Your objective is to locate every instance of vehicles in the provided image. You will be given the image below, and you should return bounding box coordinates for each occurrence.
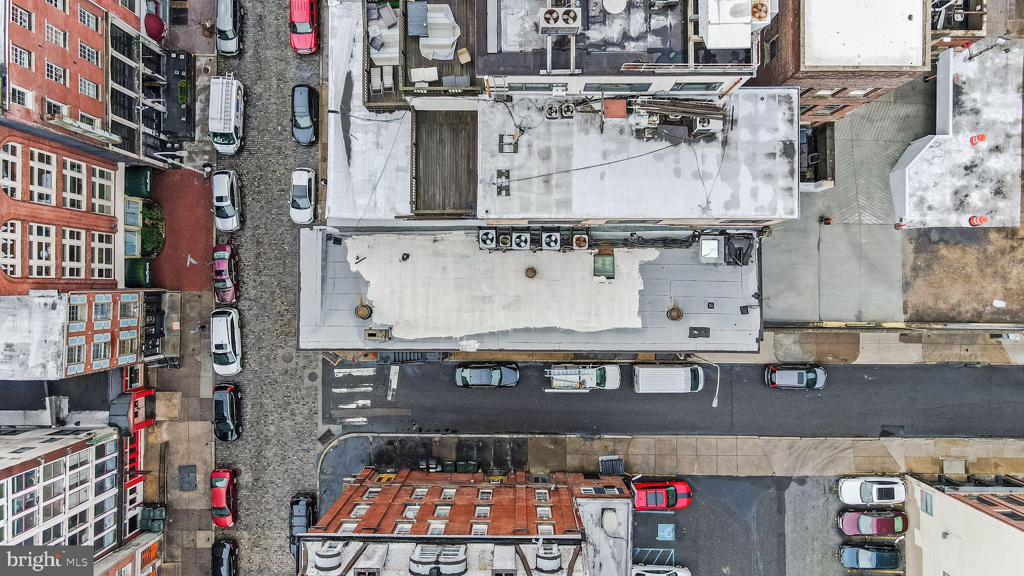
[834,475,904,509]
[286,494,318,557]
[838,541,903,573]
[547,363,622,395]
[208,306,243,376]
[632,364,705,397]
[210,75,248,155]
[211,0,245,59]
[207,242,238,303]
[209,381,243,442]
[286,163,317,224]
[630,481,691,515]
[763,362,826,393]
[210,539,241,576]
[454,361,519,391]
[286,82,318,146]
[634,563,689,576]
[838,508,908,539]
[285,0,318,56]
[206,467,238,527]
[208,167,241,232]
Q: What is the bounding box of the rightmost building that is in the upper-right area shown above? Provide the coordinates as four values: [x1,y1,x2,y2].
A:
[886,41,1023,230]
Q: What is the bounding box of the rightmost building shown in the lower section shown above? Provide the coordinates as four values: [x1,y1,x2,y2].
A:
[905,475,1024,576]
